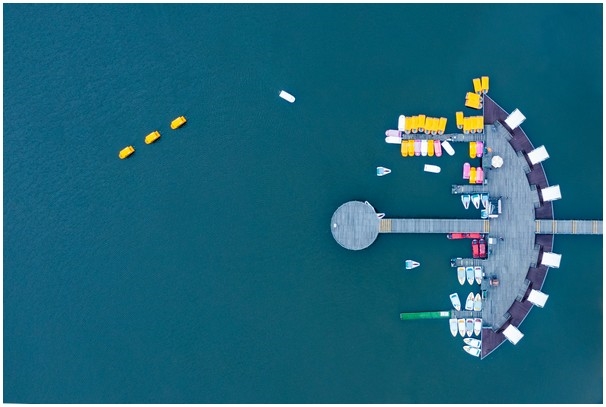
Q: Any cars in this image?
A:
No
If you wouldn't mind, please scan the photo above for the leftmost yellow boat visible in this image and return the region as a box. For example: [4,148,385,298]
[119,145,136,158]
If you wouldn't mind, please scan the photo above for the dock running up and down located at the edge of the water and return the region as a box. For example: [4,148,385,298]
[481,93,554,360]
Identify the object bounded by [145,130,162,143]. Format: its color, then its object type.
yellow boat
